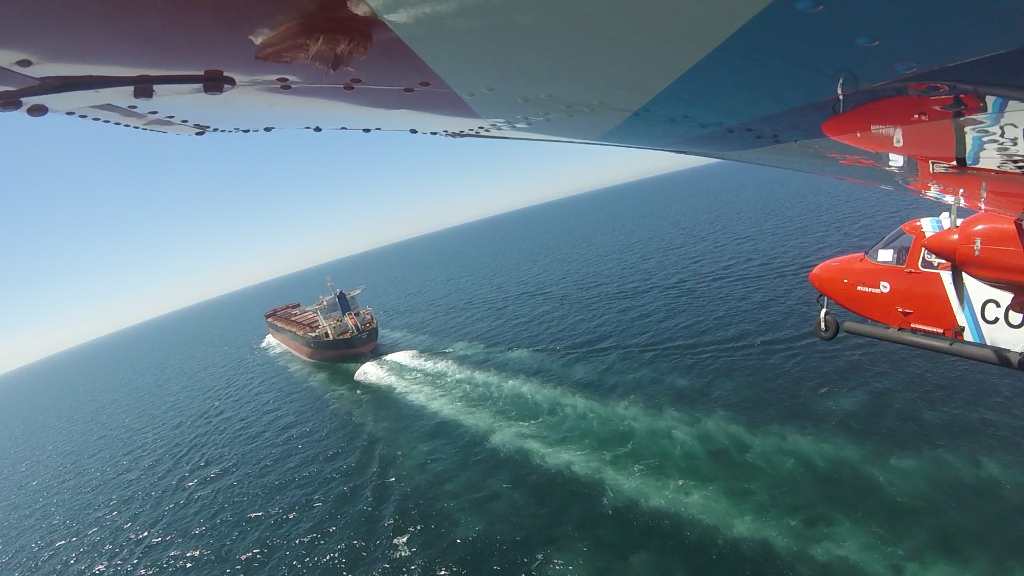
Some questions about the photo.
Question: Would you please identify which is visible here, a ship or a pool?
ship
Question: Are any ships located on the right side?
No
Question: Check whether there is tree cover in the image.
No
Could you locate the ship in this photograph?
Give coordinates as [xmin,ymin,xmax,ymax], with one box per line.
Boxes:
[267,275,380,360]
